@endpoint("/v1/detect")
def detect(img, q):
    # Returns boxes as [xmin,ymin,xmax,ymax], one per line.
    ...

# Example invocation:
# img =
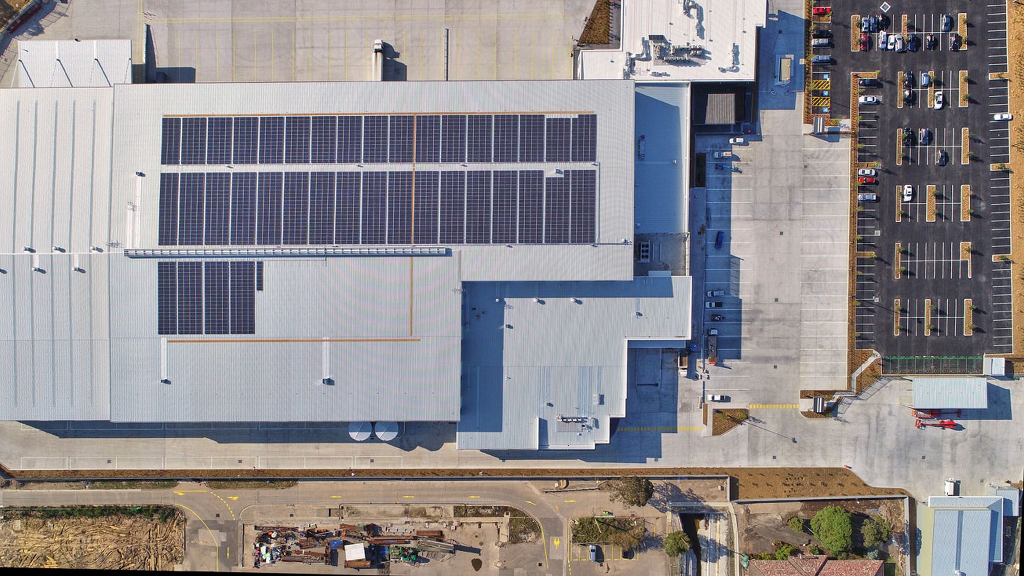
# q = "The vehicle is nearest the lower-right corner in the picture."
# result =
[943,477,957,496]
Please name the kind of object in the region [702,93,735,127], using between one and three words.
building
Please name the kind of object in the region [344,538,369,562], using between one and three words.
shed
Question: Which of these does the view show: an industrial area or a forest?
industrial area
